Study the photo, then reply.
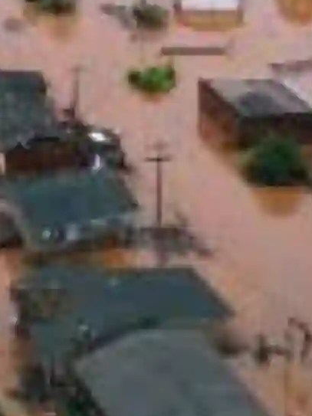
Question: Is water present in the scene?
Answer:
Yes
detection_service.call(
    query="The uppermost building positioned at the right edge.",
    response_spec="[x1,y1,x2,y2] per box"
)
[200,78,312,148]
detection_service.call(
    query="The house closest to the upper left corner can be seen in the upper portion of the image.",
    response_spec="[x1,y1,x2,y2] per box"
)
[0,67,84,182]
